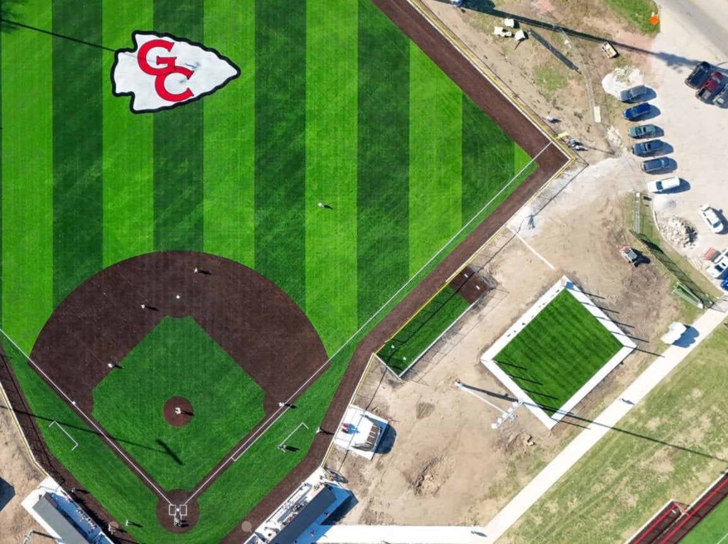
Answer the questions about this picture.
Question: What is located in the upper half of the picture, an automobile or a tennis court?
automobile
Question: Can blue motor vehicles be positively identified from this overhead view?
Yes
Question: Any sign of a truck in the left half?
No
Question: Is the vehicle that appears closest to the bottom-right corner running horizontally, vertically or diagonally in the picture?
diagonally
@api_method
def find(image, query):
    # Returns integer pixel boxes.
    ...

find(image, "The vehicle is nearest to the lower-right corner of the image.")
[661,320,687,343]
